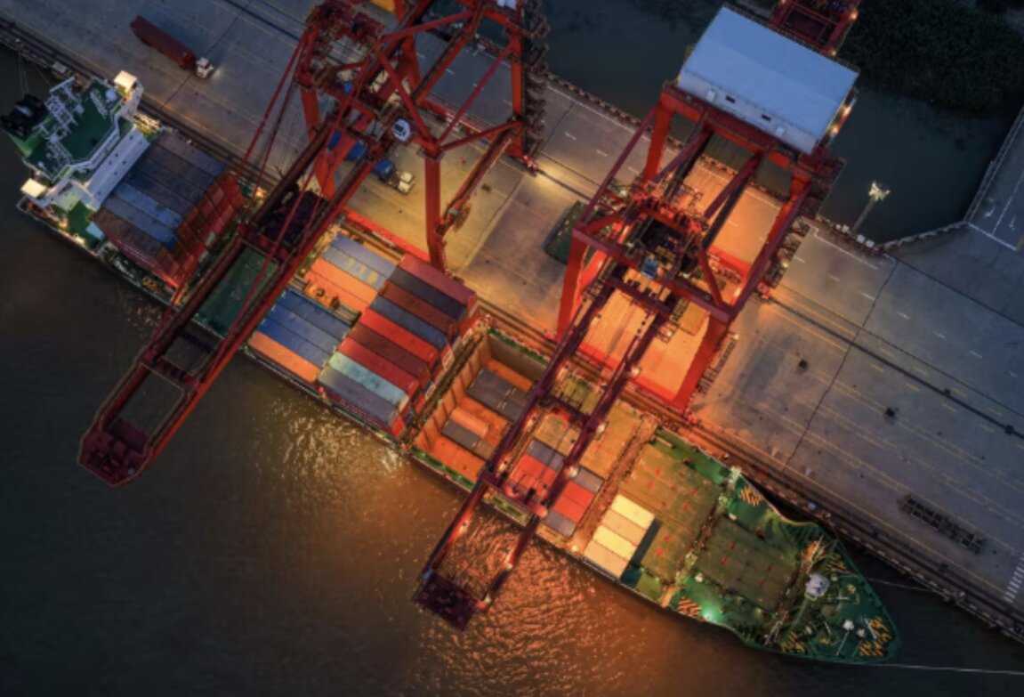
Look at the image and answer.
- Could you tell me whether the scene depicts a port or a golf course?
port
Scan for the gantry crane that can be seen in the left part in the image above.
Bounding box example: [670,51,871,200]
[68,0,554,486]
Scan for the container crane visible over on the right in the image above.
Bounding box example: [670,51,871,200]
[413,0,863,632]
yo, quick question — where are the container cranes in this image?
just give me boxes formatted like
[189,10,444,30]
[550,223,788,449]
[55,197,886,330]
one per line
[413,0,863,632]
[68,0,554,486]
